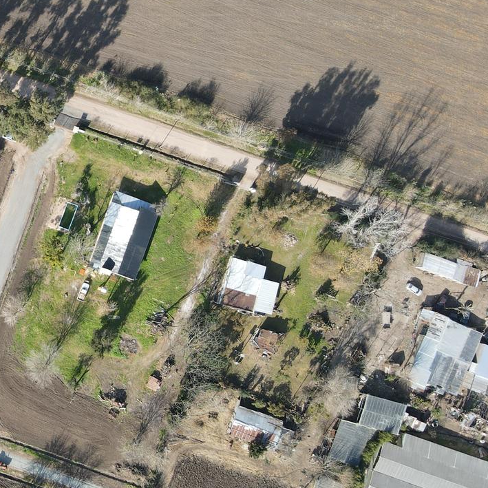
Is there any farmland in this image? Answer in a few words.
Yes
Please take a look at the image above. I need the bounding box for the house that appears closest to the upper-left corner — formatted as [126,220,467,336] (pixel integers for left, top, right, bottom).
[89,191,159,282]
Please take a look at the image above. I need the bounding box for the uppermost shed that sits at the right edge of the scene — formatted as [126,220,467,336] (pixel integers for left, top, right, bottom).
[417,254,480,287]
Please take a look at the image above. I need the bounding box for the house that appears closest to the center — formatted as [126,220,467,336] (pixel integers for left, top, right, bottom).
[217,256,278,315]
